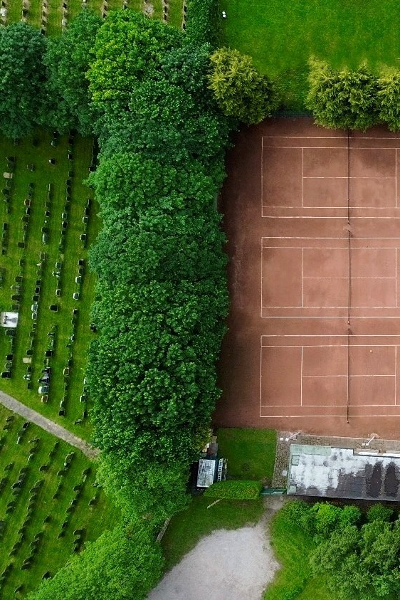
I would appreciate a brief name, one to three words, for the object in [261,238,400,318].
tennis court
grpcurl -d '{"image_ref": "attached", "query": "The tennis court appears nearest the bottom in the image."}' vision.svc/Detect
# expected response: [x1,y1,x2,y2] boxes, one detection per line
[260,336,400,417]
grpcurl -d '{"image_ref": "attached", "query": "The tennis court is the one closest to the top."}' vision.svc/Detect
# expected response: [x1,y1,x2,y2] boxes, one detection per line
[261,138,400,218]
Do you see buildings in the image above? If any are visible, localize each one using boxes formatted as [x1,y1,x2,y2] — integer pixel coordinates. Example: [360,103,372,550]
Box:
[284,442,400,502]
[197,456,220,488]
